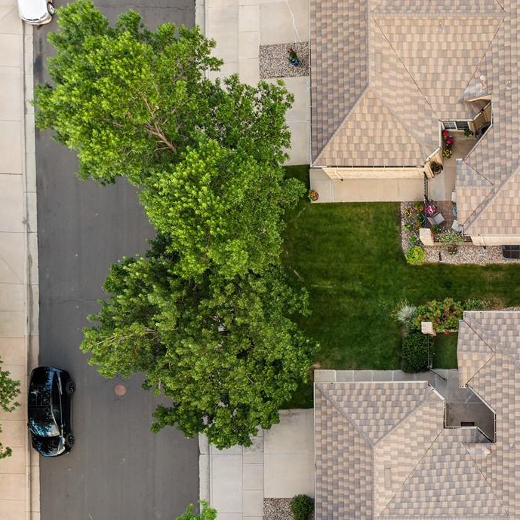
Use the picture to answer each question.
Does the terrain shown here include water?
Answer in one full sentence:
No, the picture contains no water.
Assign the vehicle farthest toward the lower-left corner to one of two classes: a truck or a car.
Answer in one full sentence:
The vehicle farthest toward the lower-left corner can be classified as a car.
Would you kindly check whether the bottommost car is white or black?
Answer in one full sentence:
The bottommost car looks black in the image.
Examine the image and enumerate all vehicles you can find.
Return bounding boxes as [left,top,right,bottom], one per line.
[9,0,54,18]
[24,368,77,458]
